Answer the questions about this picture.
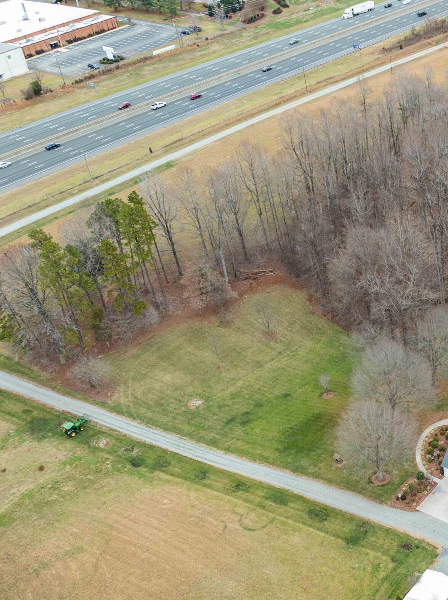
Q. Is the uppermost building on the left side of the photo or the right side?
left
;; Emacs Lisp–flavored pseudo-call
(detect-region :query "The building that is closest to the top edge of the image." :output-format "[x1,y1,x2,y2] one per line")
[0,0,120,58]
